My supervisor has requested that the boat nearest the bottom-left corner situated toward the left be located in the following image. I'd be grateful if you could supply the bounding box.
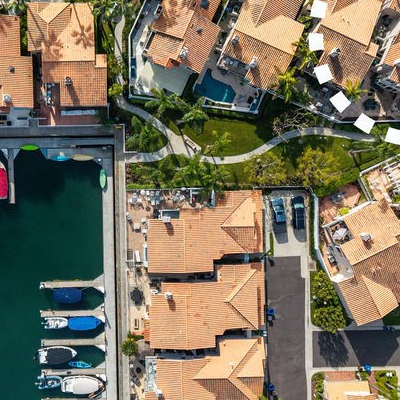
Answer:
[33,377,62,389]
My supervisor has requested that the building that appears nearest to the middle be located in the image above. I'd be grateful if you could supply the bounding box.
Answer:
[143,190,263,272]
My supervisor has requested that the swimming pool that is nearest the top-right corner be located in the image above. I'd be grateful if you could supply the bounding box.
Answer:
[193,67,238,104]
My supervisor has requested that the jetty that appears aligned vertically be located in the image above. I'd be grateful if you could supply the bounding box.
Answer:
[41,150,113,400]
